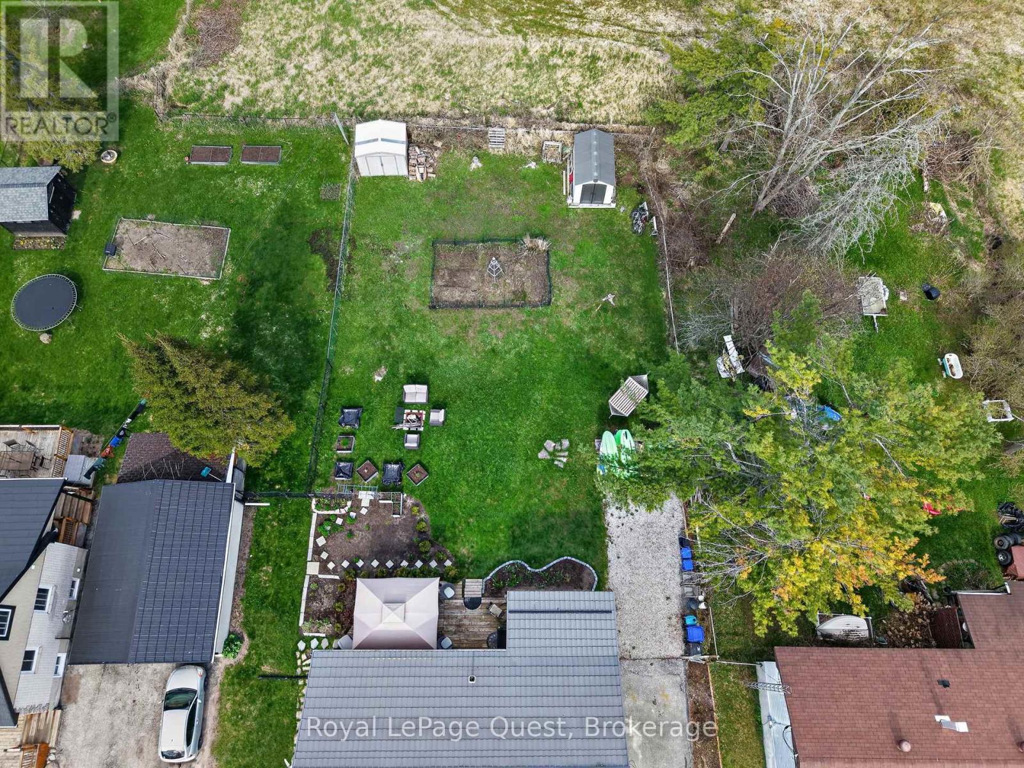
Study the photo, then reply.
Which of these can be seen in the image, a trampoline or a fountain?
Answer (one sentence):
The one in the frame is a trampoline.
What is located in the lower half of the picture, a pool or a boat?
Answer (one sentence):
Looking in the lower half of the picture, you will find a boat.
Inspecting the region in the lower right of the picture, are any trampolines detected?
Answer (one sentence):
No, I can find no trampoline in the lower right of the picture.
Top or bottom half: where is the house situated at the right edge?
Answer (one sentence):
It is in the bottom half that the house situated at the right edge appears.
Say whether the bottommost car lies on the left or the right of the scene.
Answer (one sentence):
The bottommost car is on the left side of the image.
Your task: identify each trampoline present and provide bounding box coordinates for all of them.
[8,272,89,342]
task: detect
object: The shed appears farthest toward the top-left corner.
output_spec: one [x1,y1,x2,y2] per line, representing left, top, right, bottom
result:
[0,165,78,237]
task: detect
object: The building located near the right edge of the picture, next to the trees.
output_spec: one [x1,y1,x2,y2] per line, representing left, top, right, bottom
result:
[756,581,1024,768]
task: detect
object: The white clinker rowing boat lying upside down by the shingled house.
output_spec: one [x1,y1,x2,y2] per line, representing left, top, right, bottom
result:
[814,611,870,641]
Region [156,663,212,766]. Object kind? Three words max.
car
